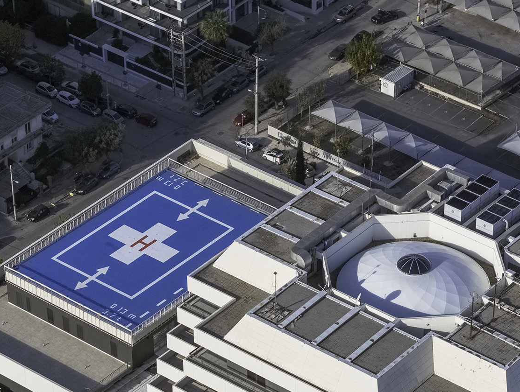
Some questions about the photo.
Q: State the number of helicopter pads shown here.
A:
one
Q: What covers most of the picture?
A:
buildings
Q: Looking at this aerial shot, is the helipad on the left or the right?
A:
left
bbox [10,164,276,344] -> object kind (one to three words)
helipad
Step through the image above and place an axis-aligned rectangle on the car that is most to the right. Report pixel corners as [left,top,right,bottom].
[369,10,400,26]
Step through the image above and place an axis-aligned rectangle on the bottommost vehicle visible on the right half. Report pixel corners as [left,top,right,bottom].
[306,168,323,183]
